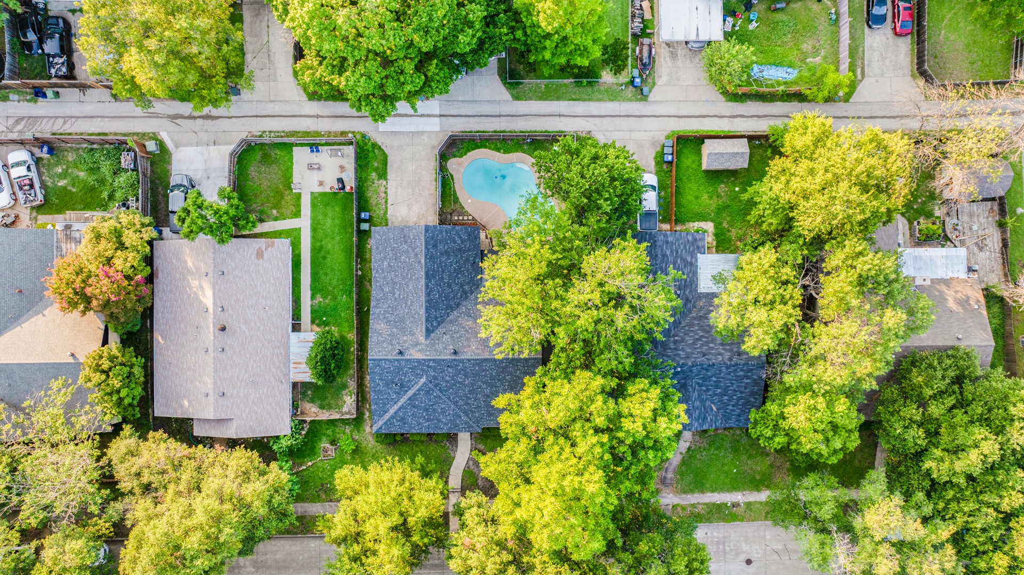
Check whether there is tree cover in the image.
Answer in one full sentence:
Yes, tree cover shows up in the scene.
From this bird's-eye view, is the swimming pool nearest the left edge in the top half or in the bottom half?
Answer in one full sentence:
You can find the swimming pool nearest the left edge in the top half.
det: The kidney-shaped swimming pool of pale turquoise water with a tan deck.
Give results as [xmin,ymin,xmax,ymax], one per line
[462,158,556,236]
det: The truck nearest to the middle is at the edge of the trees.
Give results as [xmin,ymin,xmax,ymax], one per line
[634,174,661,231]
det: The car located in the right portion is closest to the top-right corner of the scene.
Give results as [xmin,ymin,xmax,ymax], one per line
[885,0,914,38]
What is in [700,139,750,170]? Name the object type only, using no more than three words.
shed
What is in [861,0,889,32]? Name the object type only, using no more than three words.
car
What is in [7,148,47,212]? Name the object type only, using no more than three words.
truck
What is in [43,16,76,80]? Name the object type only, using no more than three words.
truck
